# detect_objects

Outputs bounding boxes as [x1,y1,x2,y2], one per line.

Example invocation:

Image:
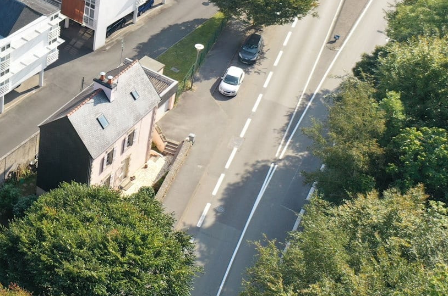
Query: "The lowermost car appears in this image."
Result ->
[219,62,249,95]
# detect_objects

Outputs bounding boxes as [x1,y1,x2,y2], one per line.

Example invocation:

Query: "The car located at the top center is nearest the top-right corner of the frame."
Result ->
[241,30,267,61]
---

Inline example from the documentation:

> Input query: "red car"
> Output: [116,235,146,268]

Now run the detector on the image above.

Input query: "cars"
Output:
[241,30,267,61]
[104,19,124,39]
[219,62,249,95]
[136,0,162,15]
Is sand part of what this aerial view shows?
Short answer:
No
